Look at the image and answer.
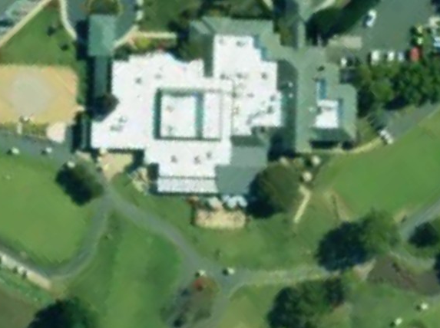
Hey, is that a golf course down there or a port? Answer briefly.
golf course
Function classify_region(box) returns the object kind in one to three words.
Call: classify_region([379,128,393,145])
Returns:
vehicle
